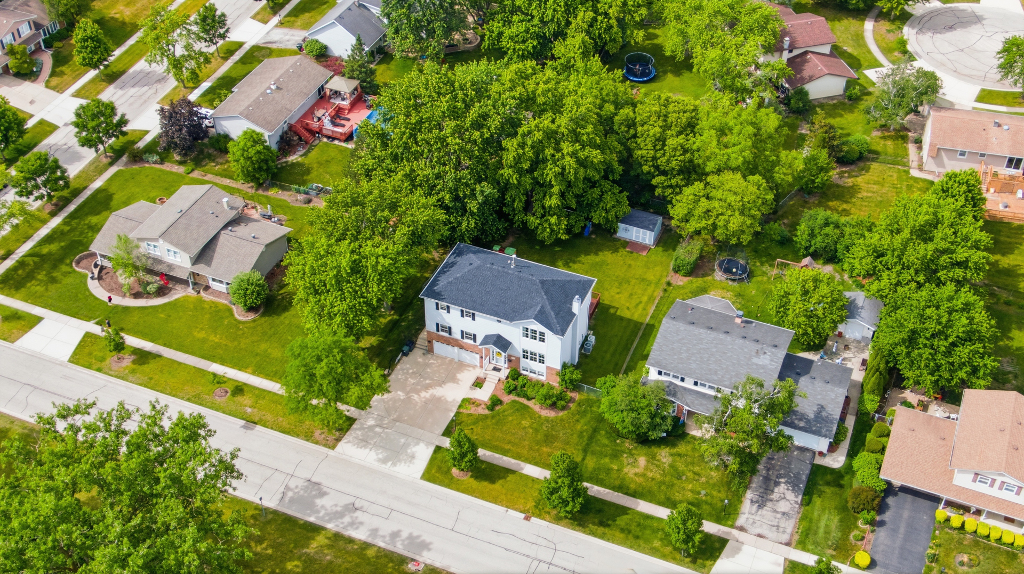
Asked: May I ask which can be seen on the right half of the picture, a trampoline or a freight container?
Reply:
trampoline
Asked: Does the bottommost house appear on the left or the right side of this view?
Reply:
right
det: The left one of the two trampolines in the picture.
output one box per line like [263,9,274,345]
[624,51,655,80]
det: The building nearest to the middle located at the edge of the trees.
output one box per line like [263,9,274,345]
[417,241,606,390]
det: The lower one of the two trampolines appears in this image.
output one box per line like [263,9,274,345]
[714,246,750,288]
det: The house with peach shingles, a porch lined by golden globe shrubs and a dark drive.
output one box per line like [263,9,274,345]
[879,389,1024,535]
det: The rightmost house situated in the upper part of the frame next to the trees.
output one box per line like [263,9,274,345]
[921,105,1024,219]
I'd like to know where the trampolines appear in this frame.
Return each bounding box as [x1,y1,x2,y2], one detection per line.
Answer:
[714,246,750,288]
[624,51,655,80]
